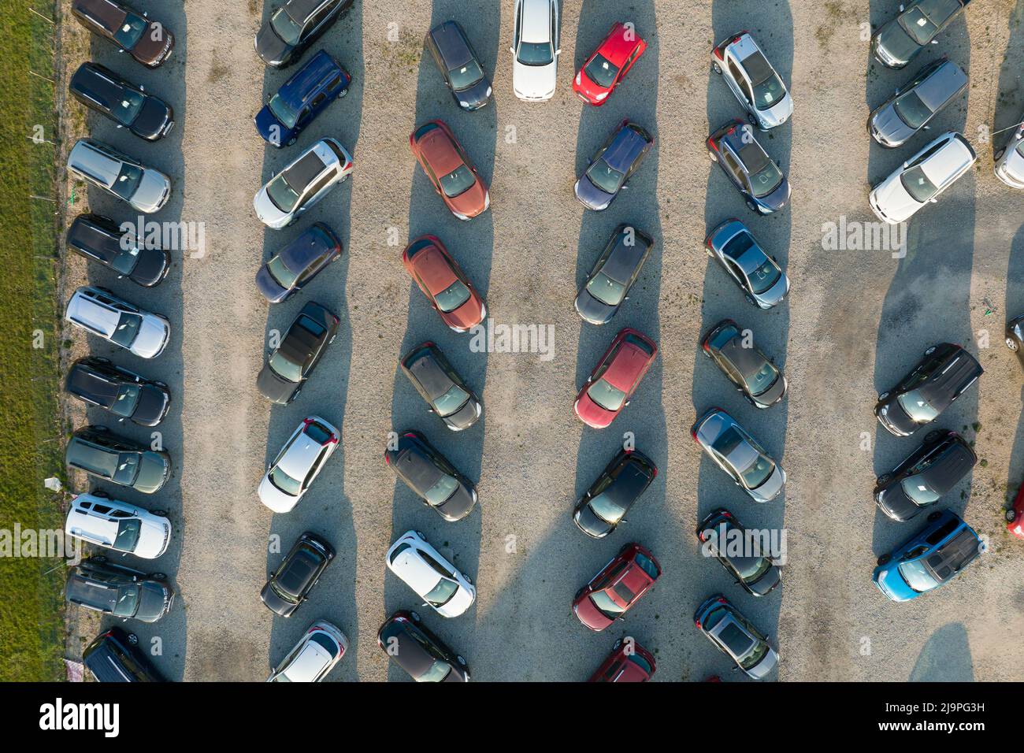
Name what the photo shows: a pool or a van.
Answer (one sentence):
Of the two, only a van appears.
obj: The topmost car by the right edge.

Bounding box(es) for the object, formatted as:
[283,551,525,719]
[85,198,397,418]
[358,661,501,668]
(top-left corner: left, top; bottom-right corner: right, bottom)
[870,0,978,73]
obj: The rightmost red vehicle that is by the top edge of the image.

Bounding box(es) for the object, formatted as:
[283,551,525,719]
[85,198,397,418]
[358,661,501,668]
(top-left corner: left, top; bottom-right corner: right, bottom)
[573,19,647,108]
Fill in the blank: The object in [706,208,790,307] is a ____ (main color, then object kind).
blue car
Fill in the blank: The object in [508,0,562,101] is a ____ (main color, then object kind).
white car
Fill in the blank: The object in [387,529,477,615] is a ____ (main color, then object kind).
white car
